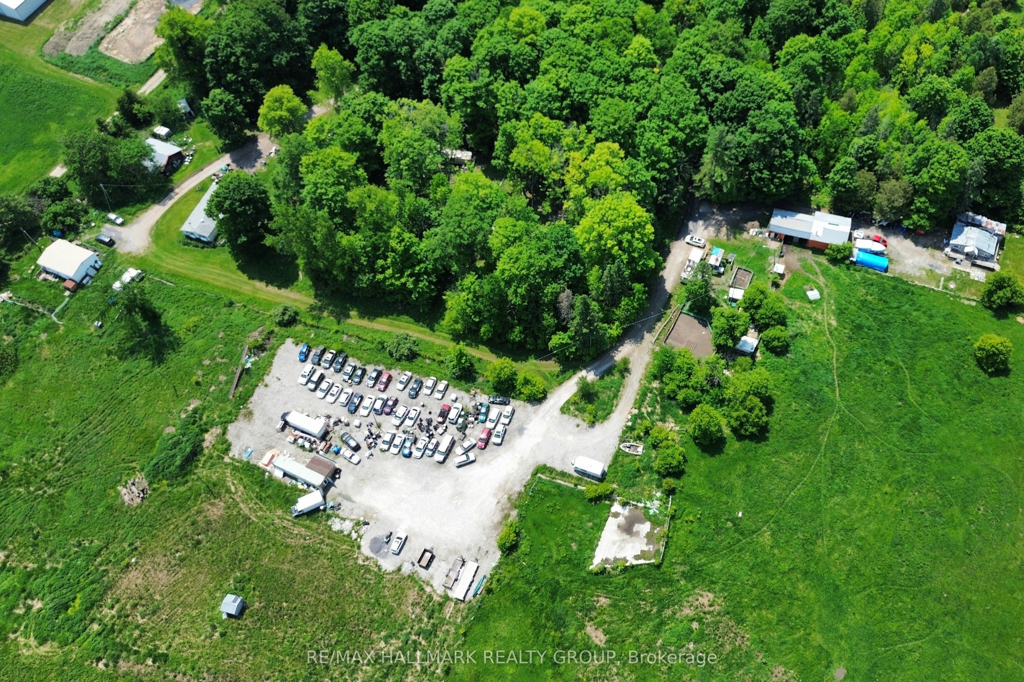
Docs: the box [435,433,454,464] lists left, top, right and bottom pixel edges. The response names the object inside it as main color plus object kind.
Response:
white vehicle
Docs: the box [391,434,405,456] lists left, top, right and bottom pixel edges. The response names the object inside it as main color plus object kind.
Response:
white car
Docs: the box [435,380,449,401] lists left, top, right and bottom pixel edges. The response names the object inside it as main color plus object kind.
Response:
white car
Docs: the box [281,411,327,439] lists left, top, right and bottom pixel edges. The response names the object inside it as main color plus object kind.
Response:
white truck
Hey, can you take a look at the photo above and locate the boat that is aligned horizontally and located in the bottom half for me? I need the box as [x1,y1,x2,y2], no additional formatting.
[620,443,645,455]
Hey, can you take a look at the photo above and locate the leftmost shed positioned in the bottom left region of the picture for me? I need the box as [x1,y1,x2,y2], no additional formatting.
[219,593,246,615]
